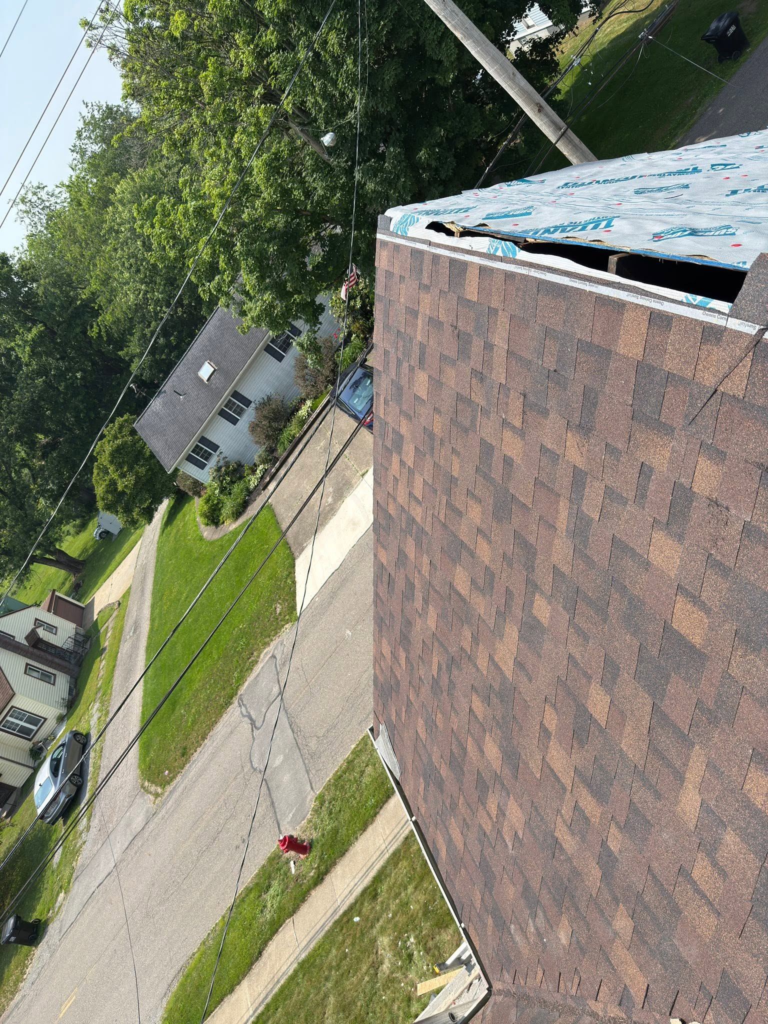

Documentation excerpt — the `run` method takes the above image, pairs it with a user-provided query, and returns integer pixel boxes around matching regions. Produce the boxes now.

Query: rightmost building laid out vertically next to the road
[367,125,768,1024]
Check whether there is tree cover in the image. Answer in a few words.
Yes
